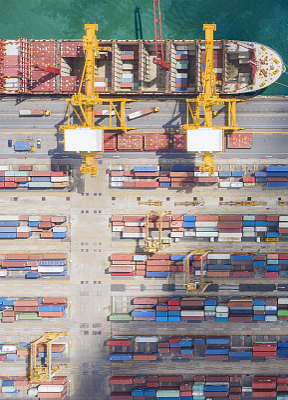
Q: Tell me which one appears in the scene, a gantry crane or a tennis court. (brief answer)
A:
gantry crane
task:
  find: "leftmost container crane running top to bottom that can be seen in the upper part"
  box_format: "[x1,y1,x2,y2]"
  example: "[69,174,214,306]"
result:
[61,20,134,176]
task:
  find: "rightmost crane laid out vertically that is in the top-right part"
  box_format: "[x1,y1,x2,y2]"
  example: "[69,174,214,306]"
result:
[181,20,244,176]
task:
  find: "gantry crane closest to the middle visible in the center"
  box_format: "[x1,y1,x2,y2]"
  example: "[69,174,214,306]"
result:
[143,210,173,254]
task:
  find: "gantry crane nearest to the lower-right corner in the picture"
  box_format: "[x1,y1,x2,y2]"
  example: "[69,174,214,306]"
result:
[186,248,214,295]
